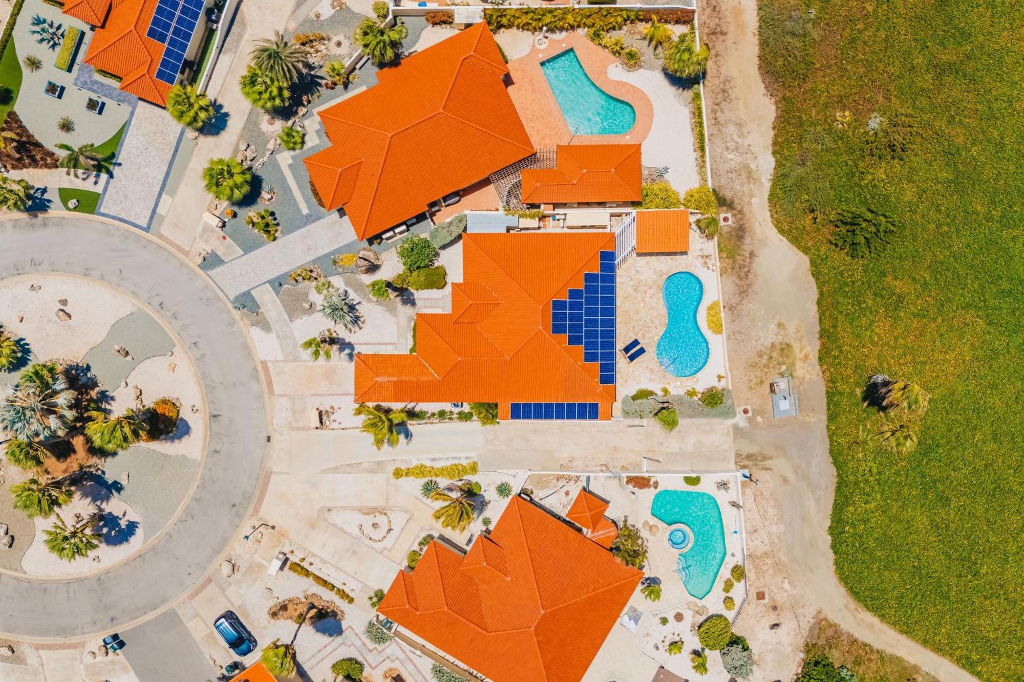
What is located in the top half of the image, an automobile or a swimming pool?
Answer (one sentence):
Looking in the top half of the image, you will find a swimming pool.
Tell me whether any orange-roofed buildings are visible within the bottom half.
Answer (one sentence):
Yes, within the bottom half there is an orange-roofed building.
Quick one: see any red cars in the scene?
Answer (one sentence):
No, this view has no red car in it.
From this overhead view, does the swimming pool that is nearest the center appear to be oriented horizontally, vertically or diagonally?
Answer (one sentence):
The swimming pool that is nearest the center is laid out vertically.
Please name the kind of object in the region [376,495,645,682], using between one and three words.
house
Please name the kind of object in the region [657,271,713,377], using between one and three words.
swimming pool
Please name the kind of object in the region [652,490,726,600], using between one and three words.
swimming pool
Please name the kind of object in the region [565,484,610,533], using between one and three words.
gazebo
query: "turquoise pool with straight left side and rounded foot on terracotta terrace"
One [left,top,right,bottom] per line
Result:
[536,43,639,140]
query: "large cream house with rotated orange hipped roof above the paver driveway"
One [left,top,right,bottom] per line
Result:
[302,19,536,241]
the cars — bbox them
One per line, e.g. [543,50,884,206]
[212,613,253,663]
